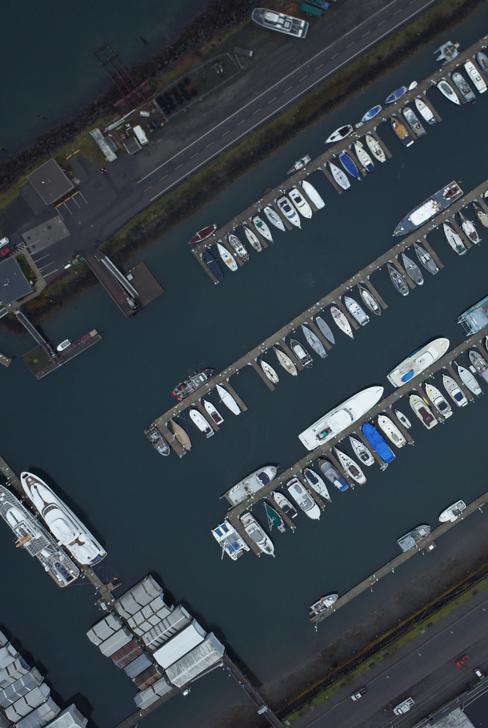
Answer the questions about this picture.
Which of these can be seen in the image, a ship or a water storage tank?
ship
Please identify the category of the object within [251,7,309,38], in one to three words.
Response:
boat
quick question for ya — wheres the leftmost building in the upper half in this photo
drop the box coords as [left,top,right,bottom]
[0,255,38,306]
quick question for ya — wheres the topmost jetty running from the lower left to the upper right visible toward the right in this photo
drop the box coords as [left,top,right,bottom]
[190,38,488,285]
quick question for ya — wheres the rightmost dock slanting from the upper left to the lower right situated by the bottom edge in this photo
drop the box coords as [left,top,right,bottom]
[221,652,282,728]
